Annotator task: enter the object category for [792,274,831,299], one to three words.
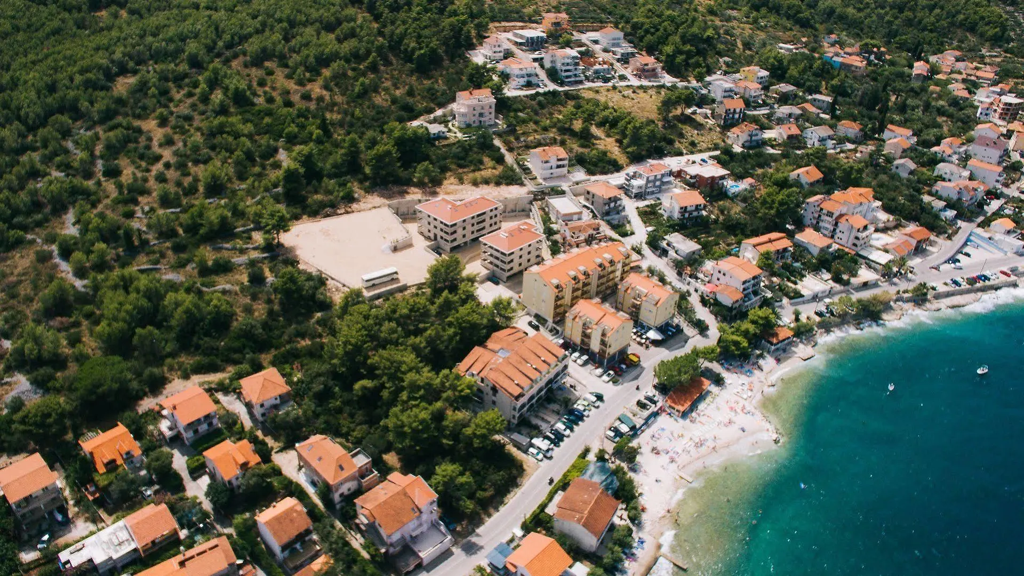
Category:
building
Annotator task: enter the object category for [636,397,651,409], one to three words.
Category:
vehicle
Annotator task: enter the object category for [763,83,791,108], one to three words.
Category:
house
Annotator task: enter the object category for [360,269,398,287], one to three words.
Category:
vehicle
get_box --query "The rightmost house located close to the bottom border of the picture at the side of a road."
[554,478,623,554]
